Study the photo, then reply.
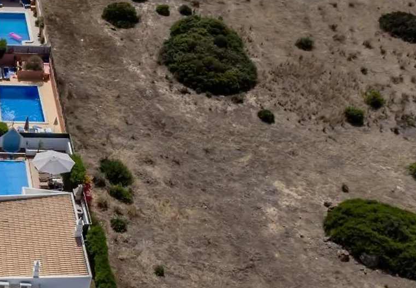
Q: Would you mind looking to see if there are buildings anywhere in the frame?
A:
Yes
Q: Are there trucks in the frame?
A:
No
